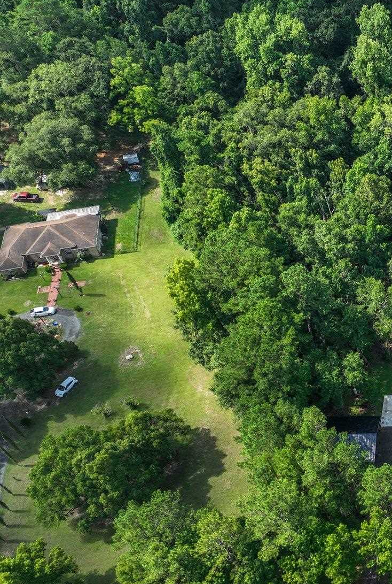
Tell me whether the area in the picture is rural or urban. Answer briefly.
rural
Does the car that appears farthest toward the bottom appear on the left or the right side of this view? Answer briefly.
left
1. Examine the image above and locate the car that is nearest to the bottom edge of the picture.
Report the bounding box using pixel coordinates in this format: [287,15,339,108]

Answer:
[52,374,80,398]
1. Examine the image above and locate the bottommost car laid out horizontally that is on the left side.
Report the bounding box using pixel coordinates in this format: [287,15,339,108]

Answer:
[29,306,57,319]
